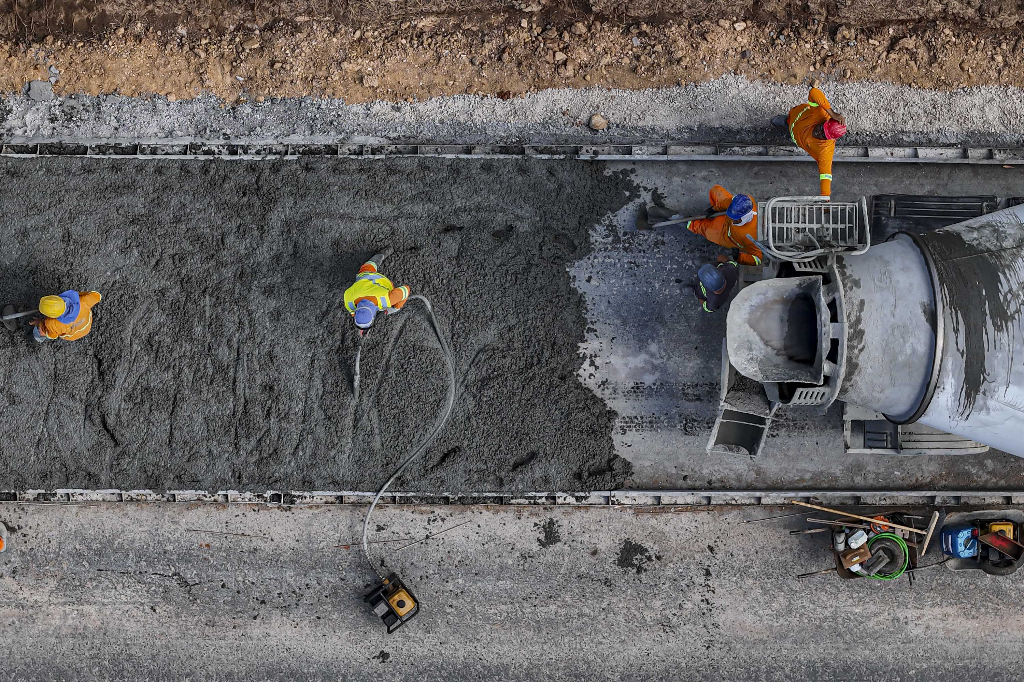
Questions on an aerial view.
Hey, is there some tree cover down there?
No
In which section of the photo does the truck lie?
right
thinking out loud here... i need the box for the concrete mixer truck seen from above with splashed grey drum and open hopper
[710,193,1024,457]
